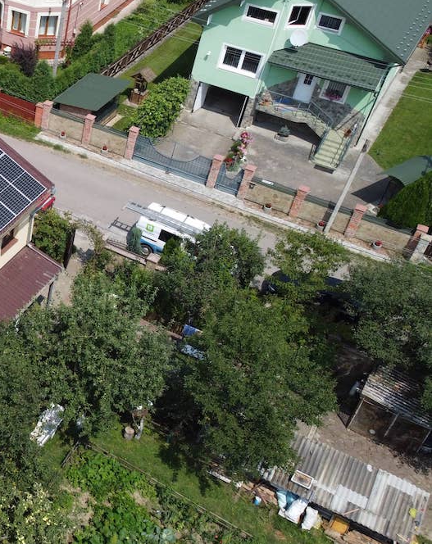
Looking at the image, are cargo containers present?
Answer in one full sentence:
No, I can see no cargo container in this picture.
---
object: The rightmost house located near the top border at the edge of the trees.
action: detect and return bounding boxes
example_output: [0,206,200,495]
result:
[182,0,432,173]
